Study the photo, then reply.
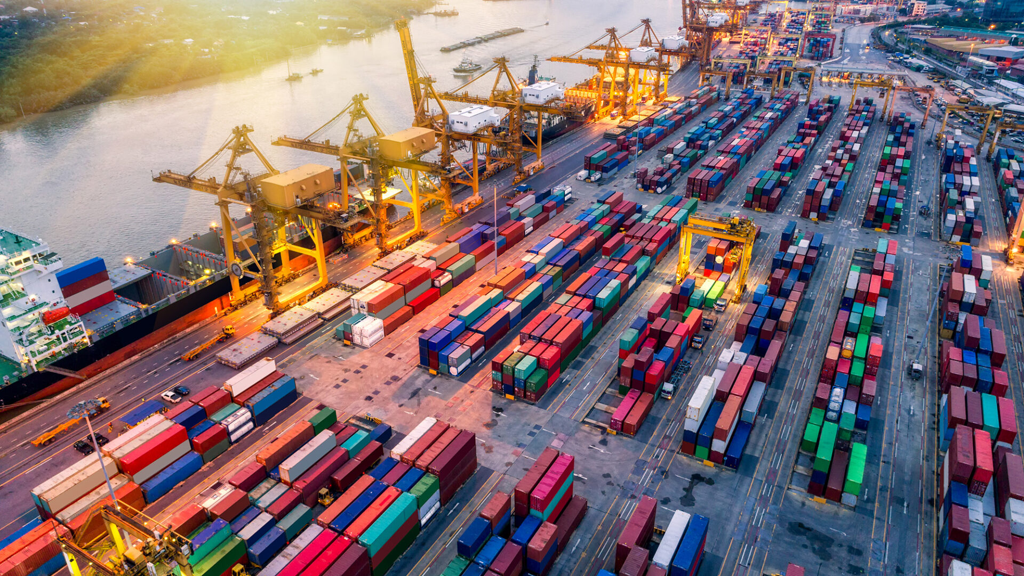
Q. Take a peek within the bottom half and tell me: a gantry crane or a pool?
gantry crane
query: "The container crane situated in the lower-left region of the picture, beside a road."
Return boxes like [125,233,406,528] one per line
[33,489,204,576]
